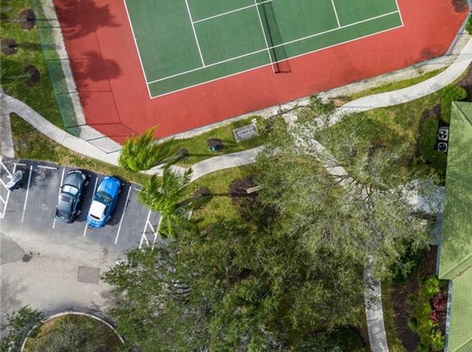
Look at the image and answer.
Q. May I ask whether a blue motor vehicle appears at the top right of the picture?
No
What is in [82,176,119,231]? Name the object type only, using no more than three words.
car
